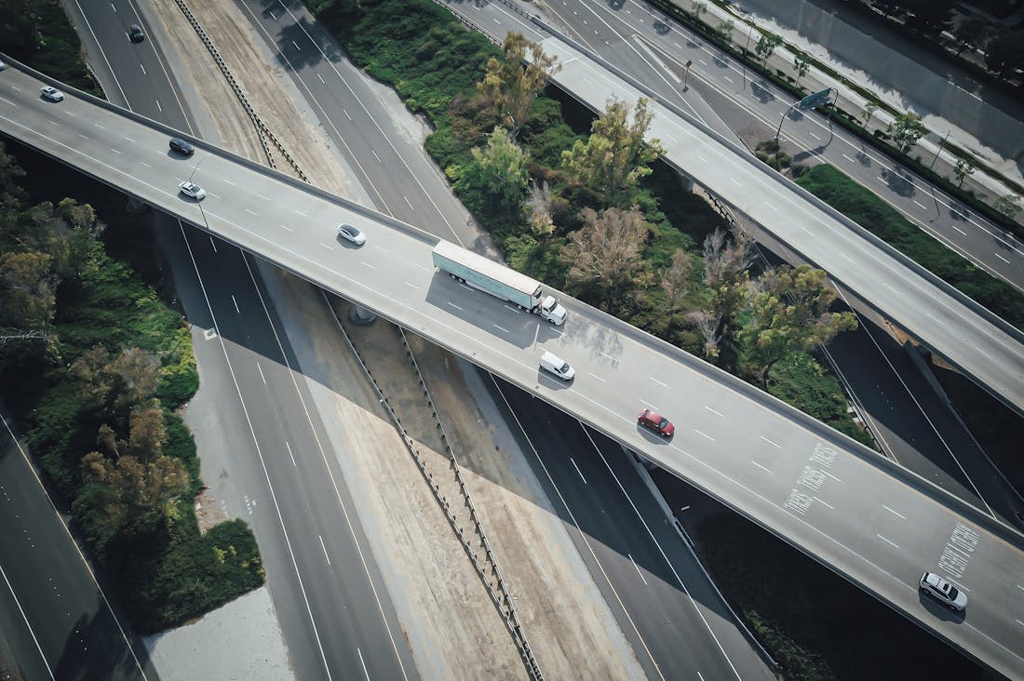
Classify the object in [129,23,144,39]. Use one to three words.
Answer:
car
